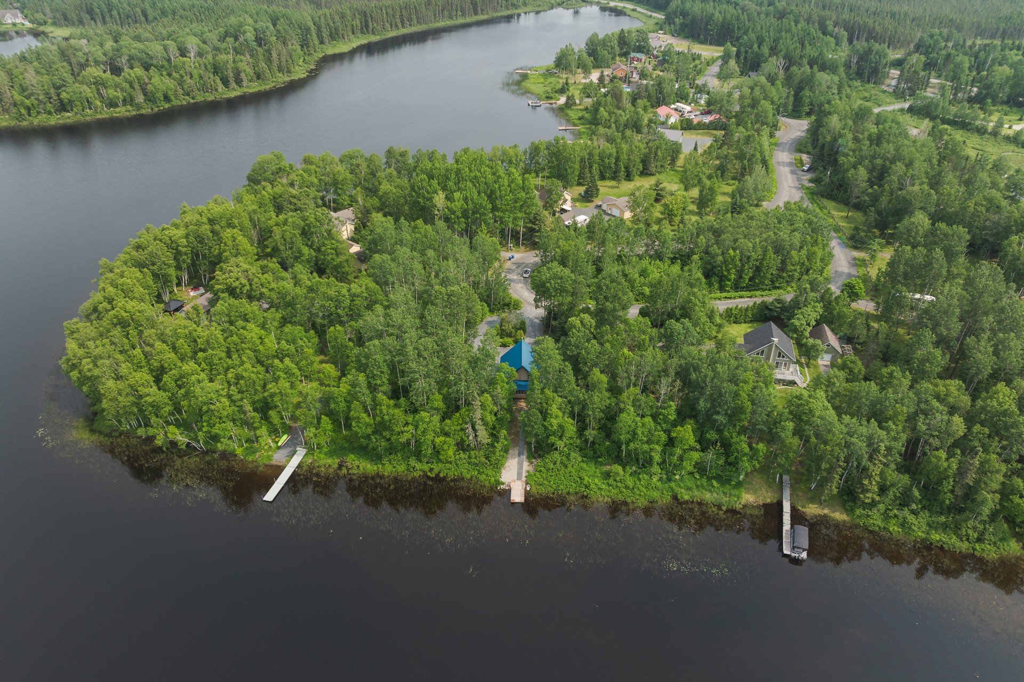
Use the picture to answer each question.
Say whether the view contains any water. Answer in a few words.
Yes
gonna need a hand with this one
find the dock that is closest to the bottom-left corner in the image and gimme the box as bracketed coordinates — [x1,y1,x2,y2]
[264,453,305,501]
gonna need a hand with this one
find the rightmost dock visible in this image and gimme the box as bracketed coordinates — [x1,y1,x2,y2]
[780,473,792,555]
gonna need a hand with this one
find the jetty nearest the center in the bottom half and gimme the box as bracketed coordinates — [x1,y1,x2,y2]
[509,481,526,505]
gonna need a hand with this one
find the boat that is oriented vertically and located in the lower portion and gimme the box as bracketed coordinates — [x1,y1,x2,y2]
[790,517,809,556]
